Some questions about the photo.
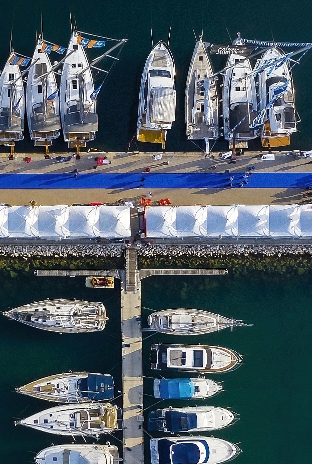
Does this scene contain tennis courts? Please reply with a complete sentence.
No, I can see no tennis court in this picture.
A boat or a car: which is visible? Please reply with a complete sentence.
This aerial view contains a boat.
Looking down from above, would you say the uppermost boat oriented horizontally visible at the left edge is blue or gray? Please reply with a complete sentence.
The color of the uppermost boat oriented horizontally visible at the left edge is gray.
